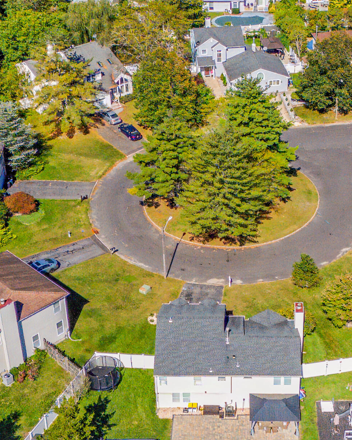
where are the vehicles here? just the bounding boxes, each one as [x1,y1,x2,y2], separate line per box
[100,108,124,123]
[120,124,145,139]
[32,256,63,274]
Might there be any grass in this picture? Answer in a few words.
Yes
